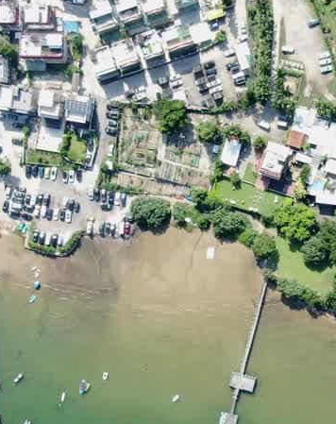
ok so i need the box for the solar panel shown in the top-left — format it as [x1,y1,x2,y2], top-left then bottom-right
[64,96,86,111]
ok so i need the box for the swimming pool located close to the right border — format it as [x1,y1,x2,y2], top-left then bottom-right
[310,177,328,193]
